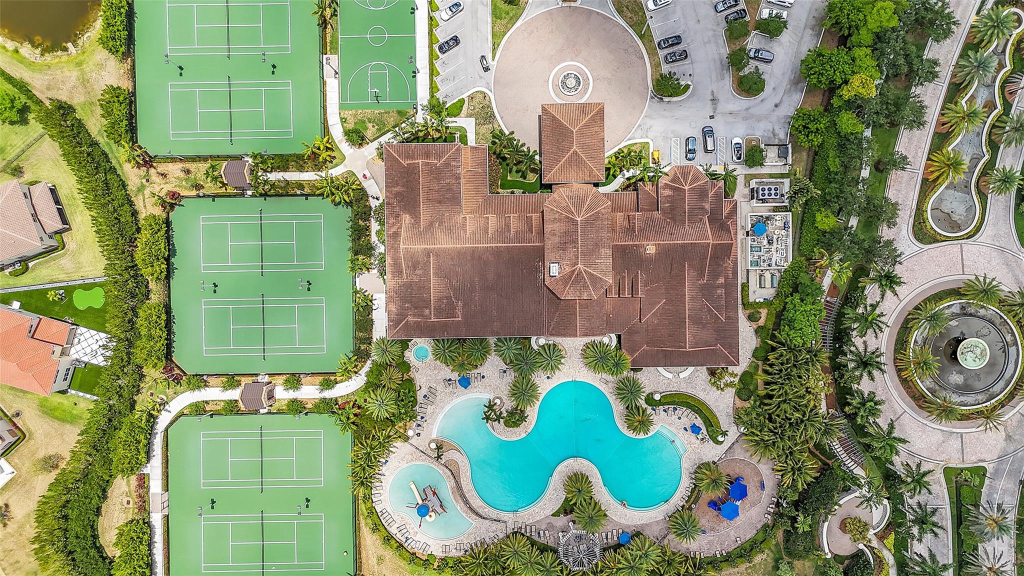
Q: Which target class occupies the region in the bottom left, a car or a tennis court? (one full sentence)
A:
The feature located in the bottom left is a tennis court.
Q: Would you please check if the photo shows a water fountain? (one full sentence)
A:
Yes, there's a water fountain here.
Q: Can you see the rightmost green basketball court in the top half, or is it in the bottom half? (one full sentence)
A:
The rightmost green basketball court sits in the top half of the picture.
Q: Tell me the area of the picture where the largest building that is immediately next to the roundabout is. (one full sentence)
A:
The largest building that is immediately next to the roundabout is in the center part of the image.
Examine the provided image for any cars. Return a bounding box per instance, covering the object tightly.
[664,48,690,63]
[647,0,673,9]
[440,0,465,19]
[724,7,750,22]
[715,0,741,12]
[686,136,698,160]
[702,125,716,152]
[749,46,777,62]
[732,136,745,162]
[763,6,788,20]
[769,0,795,7]
[657,34,684,48]
[436,35,460,54]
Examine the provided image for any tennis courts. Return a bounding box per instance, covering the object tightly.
[172,283,354,375]
[169,499,355,576]
[168,414,353,502]
[171,197,353,285]
[134,0,320,69]
[135,66,324,157]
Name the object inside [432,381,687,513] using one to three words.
swimming pool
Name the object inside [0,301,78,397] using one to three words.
house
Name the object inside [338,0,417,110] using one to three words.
basketball court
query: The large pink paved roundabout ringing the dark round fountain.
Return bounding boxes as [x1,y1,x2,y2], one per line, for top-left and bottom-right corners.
[850,241,1024,467]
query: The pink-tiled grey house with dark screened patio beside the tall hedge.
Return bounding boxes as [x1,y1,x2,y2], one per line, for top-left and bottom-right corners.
[0,179,75,269]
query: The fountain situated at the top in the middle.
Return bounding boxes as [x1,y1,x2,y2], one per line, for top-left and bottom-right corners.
[559,70,583,95]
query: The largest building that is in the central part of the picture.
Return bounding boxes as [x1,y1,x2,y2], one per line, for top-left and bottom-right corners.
[383,99,739,367]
